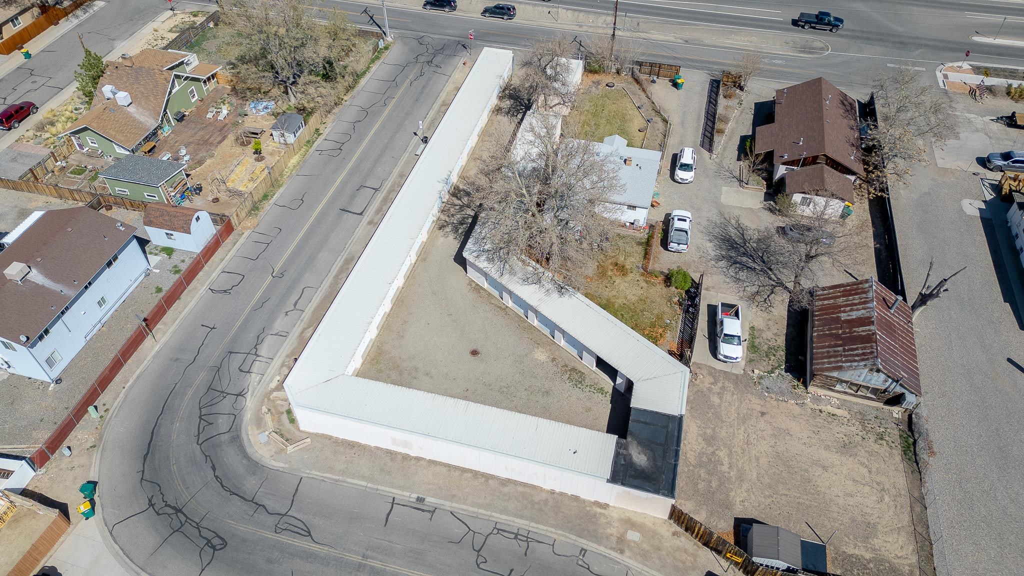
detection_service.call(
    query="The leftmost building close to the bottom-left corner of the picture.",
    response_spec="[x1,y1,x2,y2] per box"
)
[0,455,35,499]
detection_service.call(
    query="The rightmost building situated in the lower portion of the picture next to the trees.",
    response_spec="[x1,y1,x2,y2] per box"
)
[806,277,924,416]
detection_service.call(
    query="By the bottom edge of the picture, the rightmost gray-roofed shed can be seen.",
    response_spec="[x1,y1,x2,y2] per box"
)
[751,509,812,572]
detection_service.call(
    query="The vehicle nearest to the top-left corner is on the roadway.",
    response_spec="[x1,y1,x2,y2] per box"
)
[0,99,40,129]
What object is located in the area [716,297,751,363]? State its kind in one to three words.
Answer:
truck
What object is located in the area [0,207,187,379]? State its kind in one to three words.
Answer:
house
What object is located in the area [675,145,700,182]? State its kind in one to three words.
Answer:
car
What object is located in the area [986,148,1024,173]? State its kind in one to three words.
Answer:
truck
